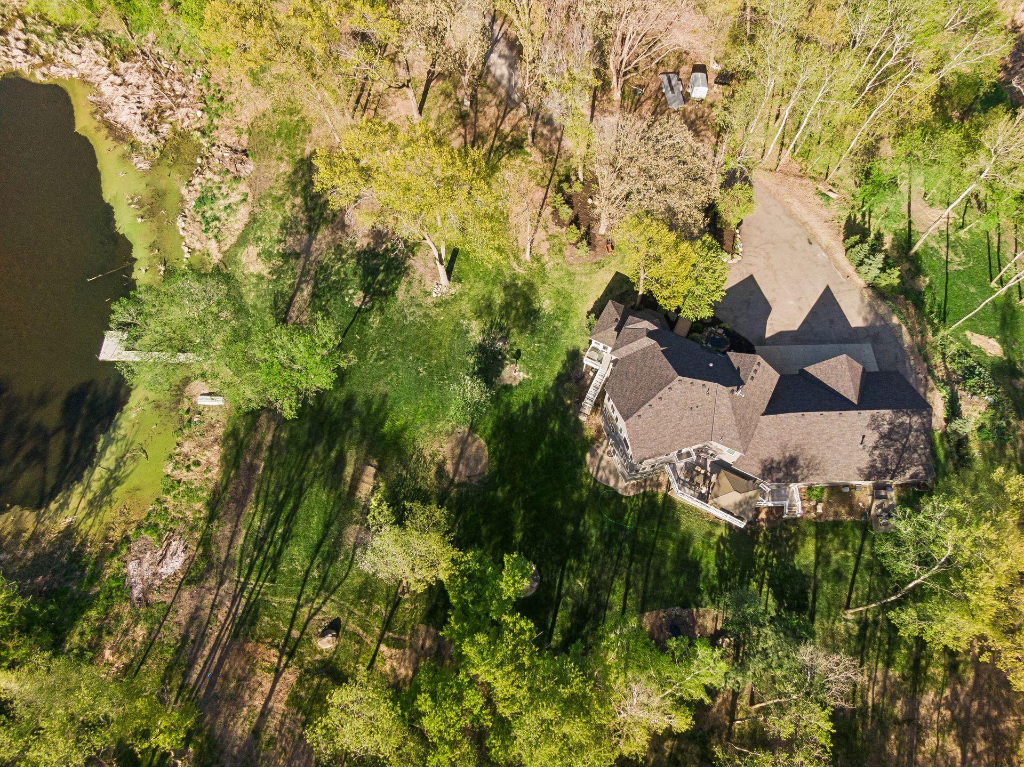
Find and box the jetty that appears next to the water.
[99,330,188,363]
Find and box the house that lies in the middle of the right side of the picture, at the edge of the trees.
[577,300,935,529]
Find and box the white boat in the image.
[195,393,225,405]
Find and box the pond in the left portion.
[0,73,142,517]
